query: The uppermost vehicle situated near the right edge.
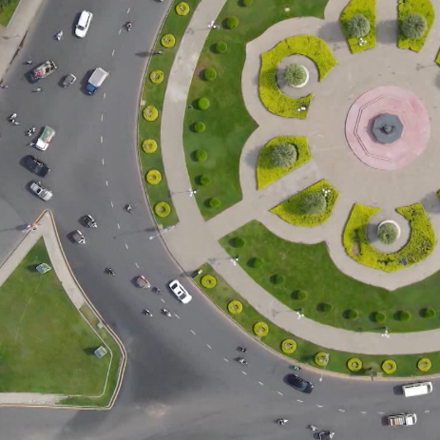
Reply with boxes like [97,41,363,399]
[402,380,432,398]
